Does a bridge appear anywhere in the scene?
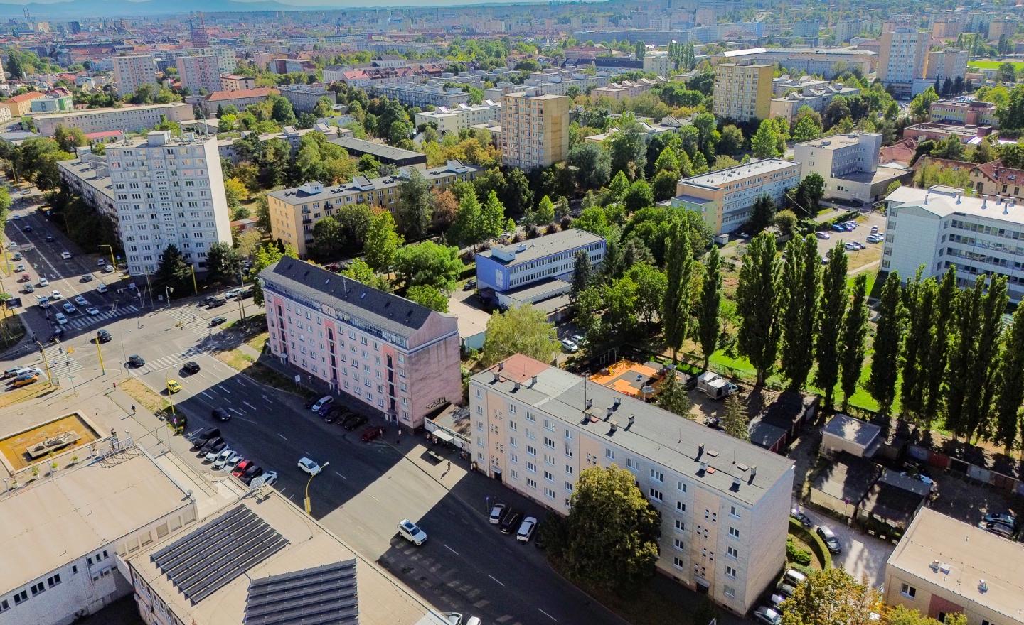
No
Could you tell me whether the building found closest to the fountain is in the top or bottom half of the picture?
bottom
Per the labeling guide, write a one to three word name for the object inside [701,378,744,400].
vehicle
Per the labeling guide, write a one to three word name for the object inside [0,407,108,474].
fountain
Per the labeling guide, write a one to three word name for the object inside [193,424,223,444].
car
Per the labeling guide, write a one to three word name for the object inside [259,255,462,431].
building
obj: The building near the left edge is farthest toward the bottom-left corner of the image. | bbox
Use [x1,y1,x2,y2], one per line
[0,444,202,625]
